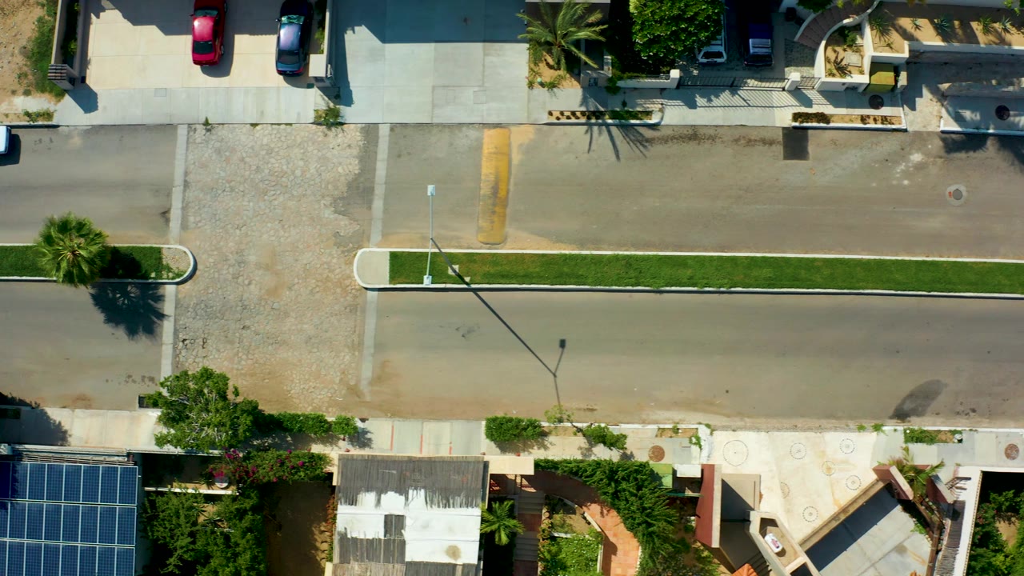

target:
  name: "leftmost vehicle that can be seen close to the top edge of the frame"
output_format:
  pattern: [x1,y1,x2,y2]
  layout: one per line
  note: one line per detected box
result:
[190,0,230,67]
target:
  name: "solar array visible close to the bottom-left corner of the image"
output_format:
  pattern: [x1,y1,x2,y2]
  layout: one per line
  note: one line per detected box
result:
[0,461,140,576]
